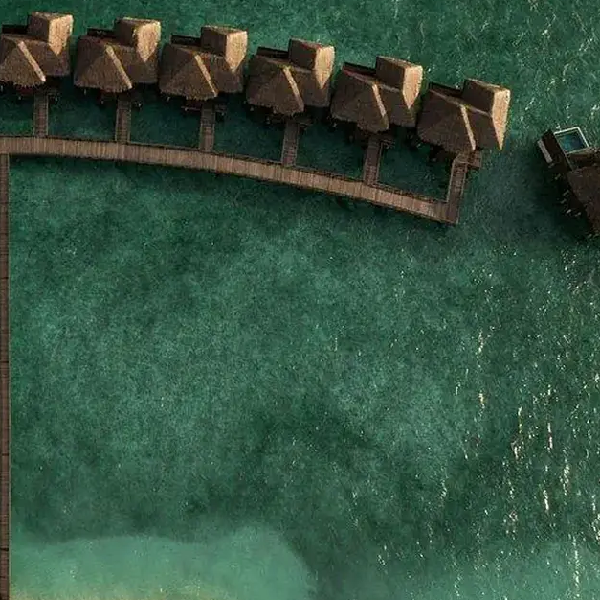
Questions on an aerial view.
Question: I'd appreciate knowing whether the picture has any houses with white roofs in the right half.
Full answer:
No, the scene shows no house with a white roof in the right half.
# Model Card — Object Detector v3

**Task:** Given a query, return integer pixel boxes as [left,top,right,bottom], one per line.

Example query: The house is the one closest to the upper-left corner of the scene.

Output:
[0,12,73,110]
